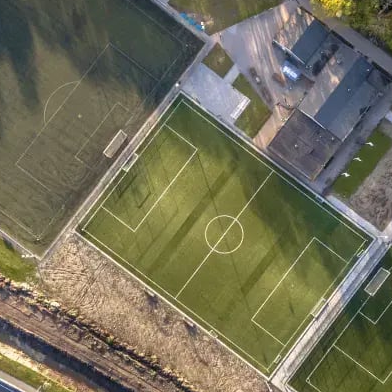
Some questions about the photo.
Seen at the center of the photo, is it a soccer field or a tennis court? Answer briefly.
soccer field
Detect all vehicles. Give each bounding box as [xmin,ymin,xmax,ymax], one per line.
[272,71,286,86]
[281,63,300,80]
